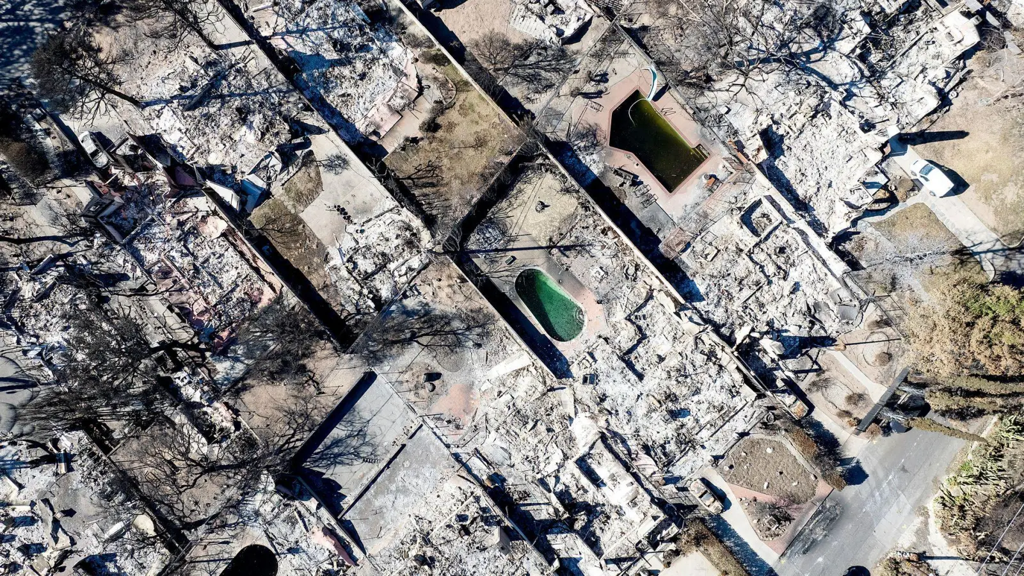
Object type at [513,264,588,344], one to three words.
swimming pool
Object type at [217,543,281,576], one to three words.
swimming pool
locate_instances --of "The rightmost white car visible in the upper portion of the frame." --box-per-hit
[907,159,957,202]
